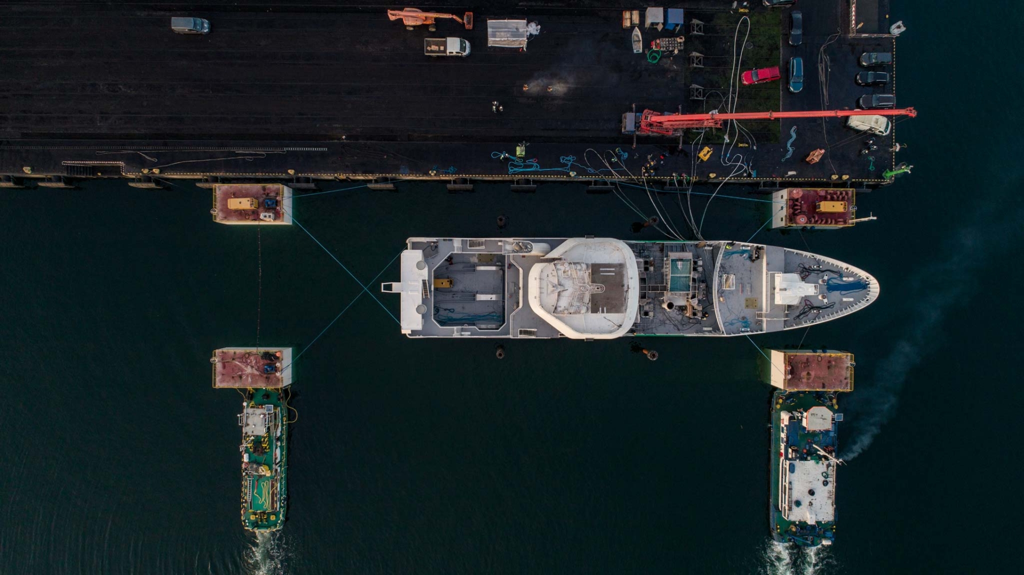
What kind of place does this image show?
port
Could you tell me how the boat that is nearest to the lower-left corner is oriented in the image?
up and down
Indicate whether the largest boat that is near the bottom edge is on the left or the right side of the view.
right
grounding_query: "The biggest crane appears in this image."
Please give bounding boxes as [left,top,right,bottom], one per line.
[622,103,919,153]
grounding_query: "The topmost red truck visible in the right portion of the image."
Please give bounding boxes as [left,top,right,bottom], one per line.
[741,64,785,85]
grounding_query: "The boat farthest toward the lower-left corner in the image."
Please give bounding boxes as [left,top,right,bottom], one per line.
[236,388,290,532]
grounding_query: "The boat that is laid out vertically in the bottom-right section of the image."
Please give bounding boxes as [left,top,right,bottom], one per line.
[769,389,846,547]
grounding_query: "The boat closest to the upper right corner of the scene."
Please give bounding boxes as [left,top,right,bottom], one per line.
[891,18,909,34]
